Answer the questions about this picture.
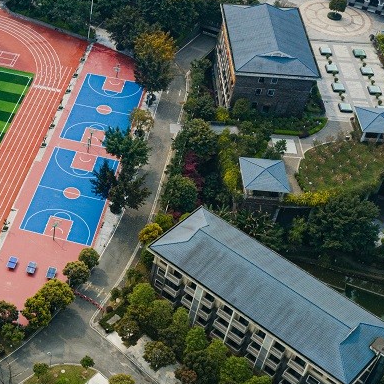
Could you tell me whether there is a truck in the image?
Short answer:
No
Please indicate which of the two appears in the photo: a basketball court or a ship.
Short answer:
basketball court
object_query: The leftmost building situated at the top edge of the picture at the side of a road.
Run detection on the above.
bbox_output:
[214,0,322,116]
